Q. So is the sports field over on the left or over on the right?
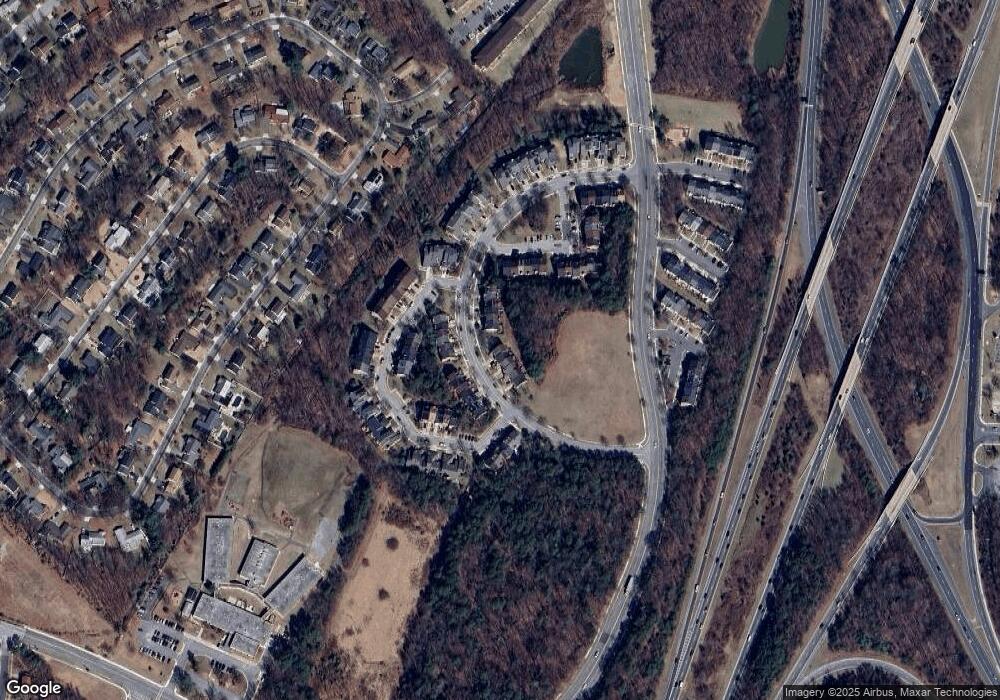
left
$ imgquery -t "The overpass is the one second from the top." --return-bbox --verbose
[929,98,960,168]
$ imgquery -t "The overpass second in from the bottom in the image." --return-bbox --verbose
[832,350,861,413]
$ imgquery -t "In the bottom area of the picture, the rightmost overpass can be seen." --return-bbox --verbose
[882,465,917,525]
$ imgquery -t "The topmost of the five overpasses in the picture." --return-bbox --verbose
[892,5,928,78]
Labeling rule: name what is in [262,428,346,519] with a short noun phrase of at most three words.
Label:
sports field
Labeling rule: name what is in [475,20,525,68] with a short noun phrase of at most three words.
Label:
building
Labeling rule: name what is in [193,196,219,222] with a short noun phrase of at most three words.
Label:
house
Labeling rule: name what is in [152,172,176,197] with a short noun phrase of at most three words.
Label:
house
